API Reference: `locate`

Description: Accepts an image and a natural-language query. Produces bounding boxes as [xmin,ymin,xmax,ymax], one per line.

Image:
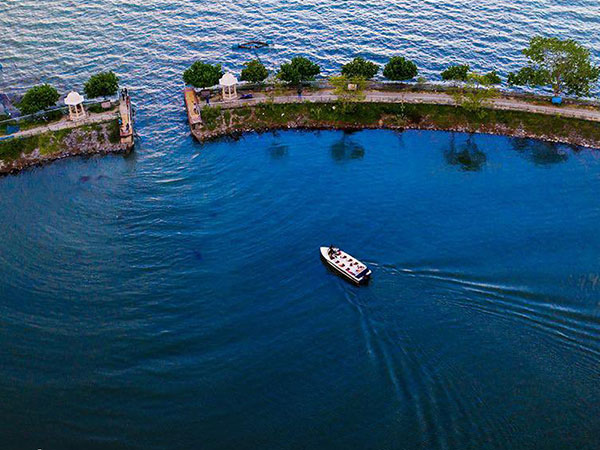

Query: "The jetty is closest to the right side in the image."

[182,87,207,137]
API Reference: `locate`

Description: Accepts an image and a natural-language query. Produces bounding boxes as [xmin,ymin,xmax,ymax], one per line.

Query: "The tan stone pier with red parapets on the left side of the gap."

[117,93,137,148]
